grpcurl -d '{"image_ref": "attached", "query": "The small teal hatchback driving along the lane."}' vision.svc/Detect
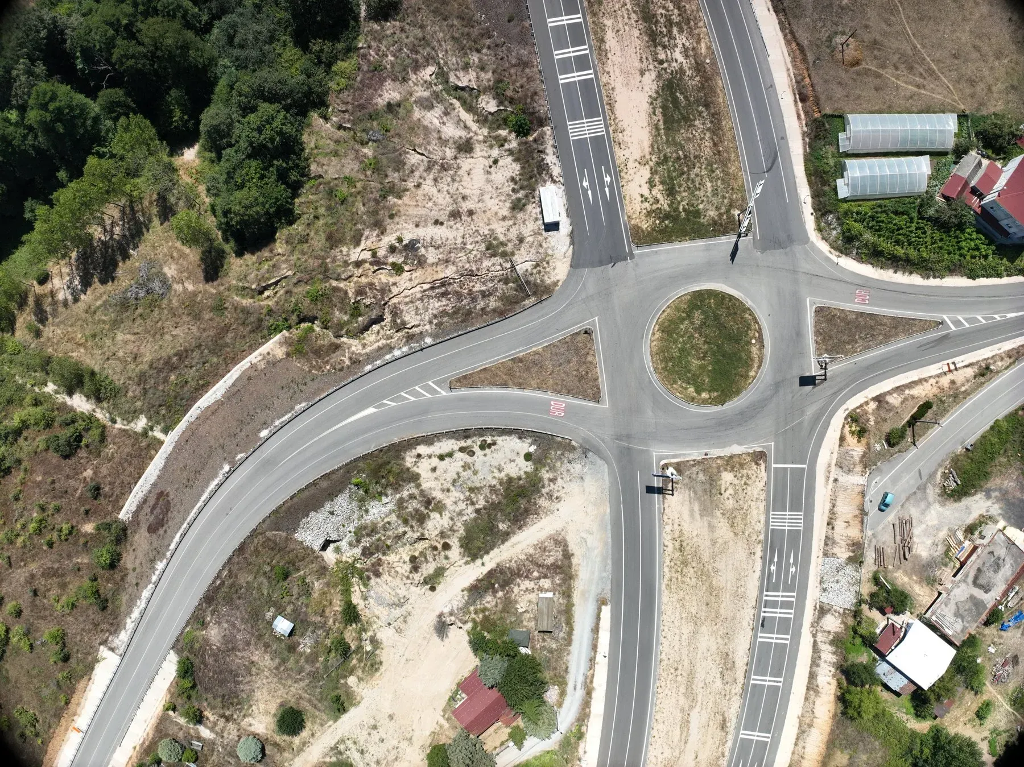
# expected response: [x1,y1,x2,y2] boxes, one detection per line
[878,490,897,513]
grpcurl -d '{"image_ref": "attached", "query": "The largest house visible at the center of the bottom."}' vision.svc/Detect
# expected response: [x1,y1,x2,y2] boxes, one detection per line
[453,666,508,735]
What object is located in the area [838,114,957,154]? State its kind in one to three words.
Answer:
greenhouse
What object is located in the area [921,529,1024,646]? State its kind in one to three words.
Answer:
building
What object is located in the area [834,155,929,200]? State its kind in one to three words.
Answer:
greenhouse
